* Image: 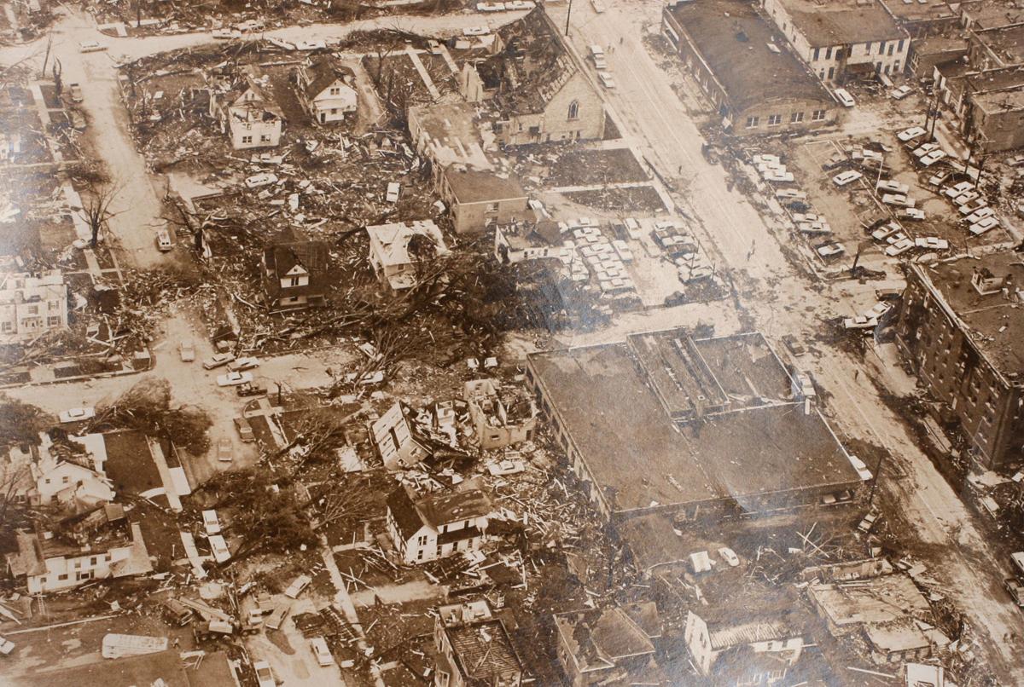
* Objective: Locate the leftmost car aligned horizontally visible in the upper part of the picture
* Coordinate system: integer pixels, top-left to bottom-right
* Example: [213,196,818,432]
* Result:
[77,41,111,53]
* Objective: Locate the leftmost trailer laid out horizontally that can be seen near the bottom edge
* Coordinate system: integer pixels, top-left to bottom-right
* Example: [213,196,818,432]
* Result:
[97,634,172,659]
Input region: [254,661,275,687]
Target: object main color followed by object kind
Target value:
white car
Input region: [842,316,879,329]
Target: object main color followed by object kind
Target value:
white vehicle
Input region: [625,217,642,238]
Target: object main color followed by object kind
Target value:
white car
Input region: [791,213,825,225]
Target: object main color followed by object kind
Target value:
white vehicle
